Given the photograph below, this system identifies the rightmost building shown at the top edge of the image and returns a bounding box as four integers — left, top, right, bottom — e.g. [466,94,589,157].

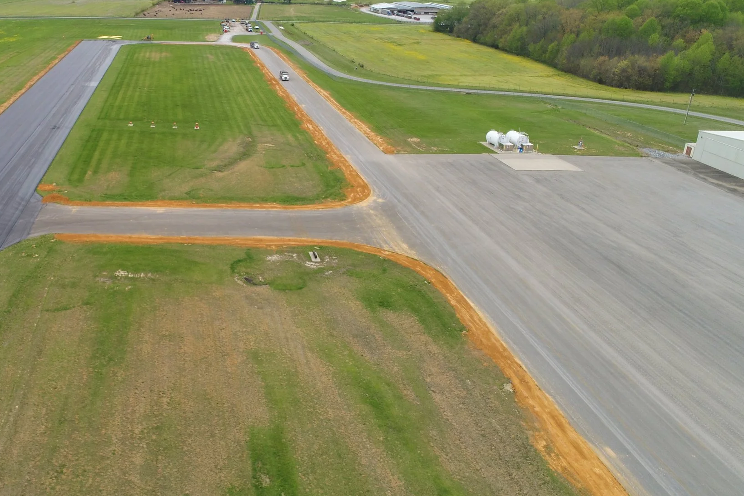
[373,0,439,16]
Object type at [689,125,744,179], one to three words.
hangar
